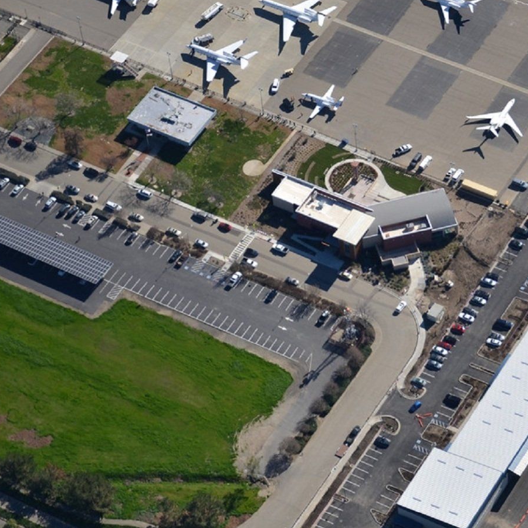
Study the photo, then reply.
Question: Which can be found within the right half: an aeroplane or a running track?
aeroplane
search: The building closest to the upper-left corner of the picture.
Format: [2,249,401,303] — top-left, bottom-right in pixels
[128,86,217,146]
